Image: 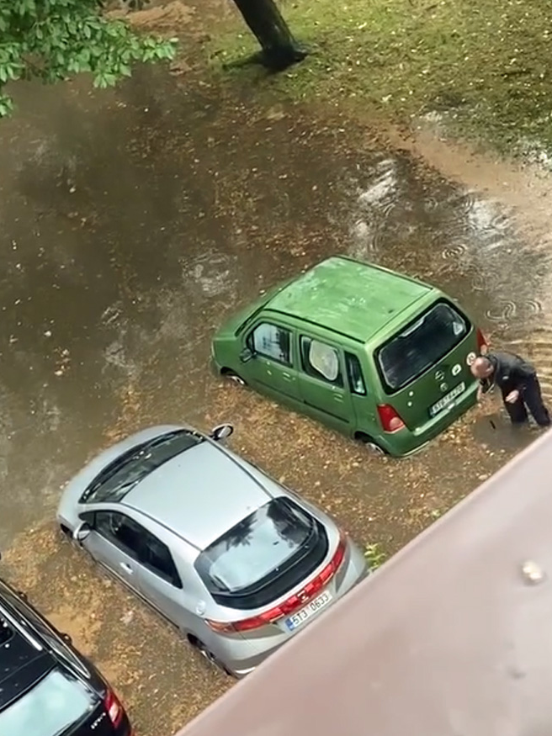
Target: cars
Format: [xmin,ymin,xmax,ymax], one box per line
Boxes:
[63,422,362,673]
[217,257,480,453]
[0,585,138,736]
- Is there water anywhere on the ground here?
Yes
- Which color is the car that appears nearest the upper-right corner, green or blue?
green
